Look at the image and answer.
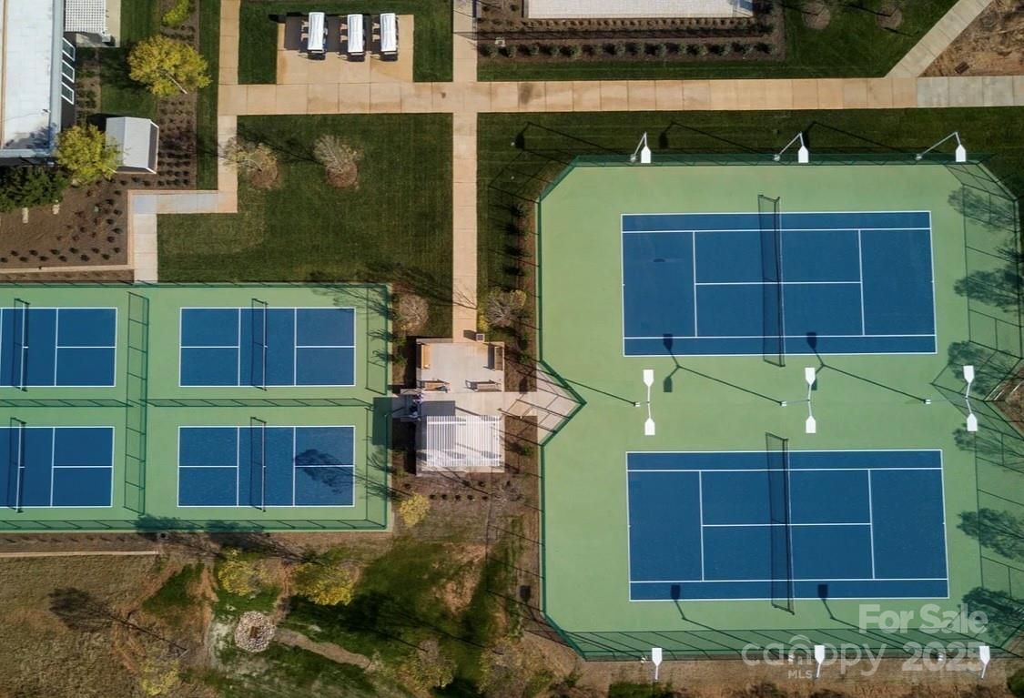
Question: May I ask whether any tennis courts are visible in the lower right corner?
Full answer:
Yes, looking in the lower right corner, one can make out a tennis court.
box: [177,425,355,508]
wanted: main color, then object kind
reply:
blue sports court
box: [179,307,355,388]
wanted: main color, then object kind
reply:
blue sports court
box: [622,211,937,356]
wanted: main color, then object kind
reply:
blue tennis court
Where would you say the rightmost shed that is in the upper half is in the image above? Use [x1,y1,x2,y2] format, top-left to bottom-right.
[107,115,159,173]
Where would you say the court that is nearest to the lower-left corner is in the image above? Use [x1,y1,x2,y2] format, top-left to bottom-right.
[0,426,114,508]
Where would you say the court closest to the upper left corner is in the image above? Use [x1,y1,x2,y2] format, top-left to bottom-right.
[0,308,117,388]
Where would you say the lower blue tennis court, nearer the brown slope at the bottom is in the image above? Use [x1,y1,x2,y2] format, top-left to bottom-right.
[628,451,948,600]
